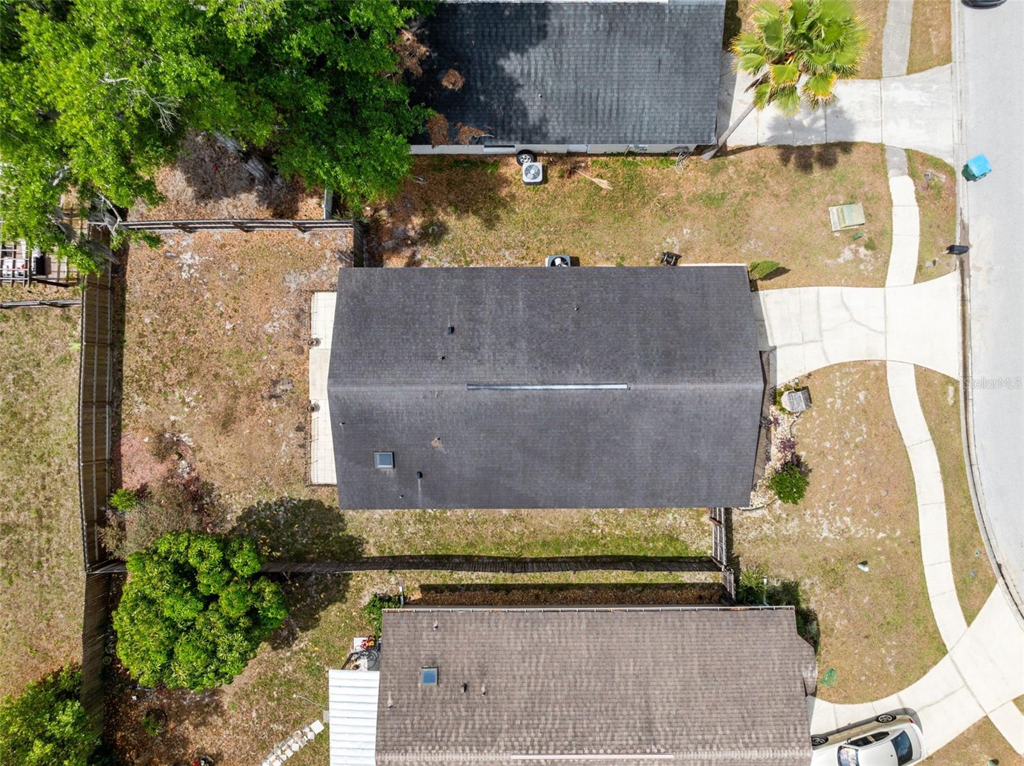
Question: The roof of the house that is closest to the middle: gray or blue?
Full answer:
The roof of the house that is closest to the middle looks gray in the image.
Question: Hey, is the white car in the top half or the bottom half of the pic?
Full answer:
It is in the bottom half that the white car appears.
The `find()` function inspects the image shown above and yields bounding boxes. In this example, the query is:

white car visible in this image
[813,713,928,766]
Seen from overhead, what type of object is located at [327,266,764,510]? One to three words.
house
